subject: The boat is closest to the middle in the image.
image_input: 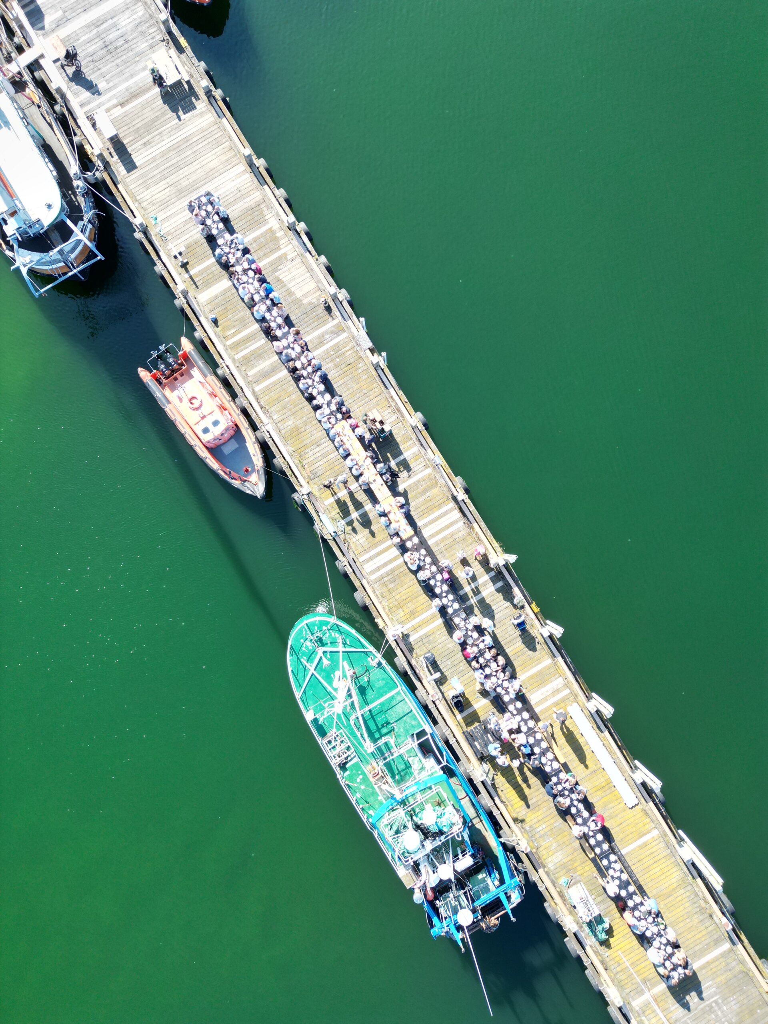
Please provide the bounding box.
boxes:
[142,340,270,501]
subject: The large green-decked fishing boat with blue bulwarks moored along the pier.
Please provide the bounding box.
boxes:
[286,613,528,1018]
